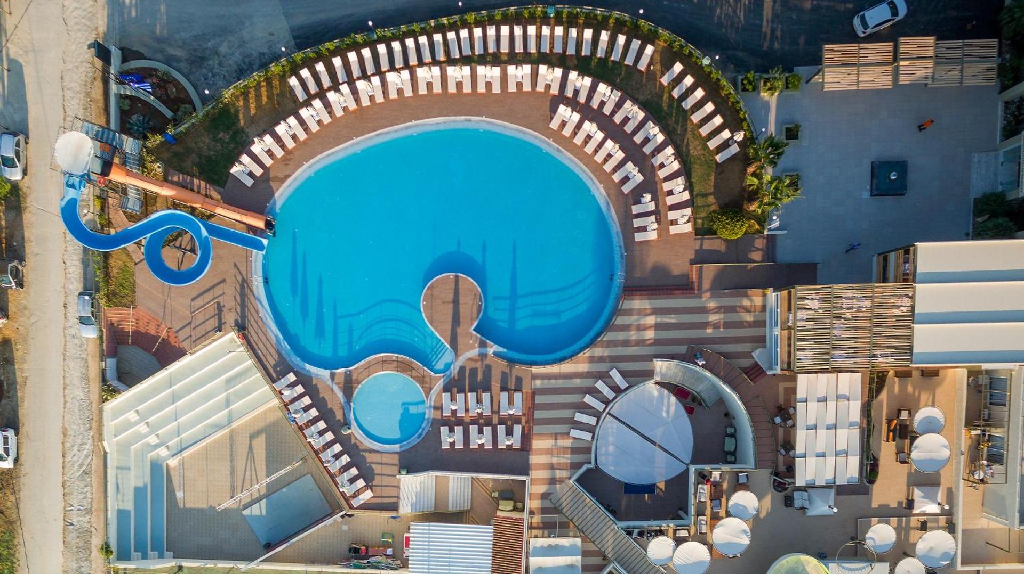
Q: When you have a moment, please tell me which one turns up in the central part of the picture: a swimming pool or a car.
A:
swimming pool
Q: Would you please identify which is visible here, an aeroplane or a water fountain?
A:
water fountain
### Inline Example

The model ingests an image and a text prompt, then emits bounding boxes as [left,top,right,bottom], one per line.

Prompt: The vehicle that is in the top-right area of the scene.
[850,0,907,39]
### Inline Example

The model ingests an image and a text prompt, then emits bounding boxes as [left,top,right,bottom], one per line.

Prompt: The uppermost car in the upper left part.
[0,130,29,181]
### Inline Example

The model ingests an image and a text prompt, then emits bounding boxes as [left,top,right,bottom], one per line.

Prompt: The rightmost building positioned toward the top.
[983,138,1024,203]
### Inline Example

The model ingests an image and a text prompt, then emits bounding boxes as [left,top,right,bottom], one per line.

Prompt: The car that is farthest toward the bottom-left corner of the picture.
[0,424,22,471]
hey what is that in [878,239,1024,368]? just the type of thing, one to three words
building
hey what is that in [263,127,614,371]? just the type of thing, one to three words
swimming pool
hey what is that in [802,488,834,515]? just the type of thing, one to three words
umbrella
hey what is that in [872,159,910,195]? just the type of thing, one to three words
fountain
